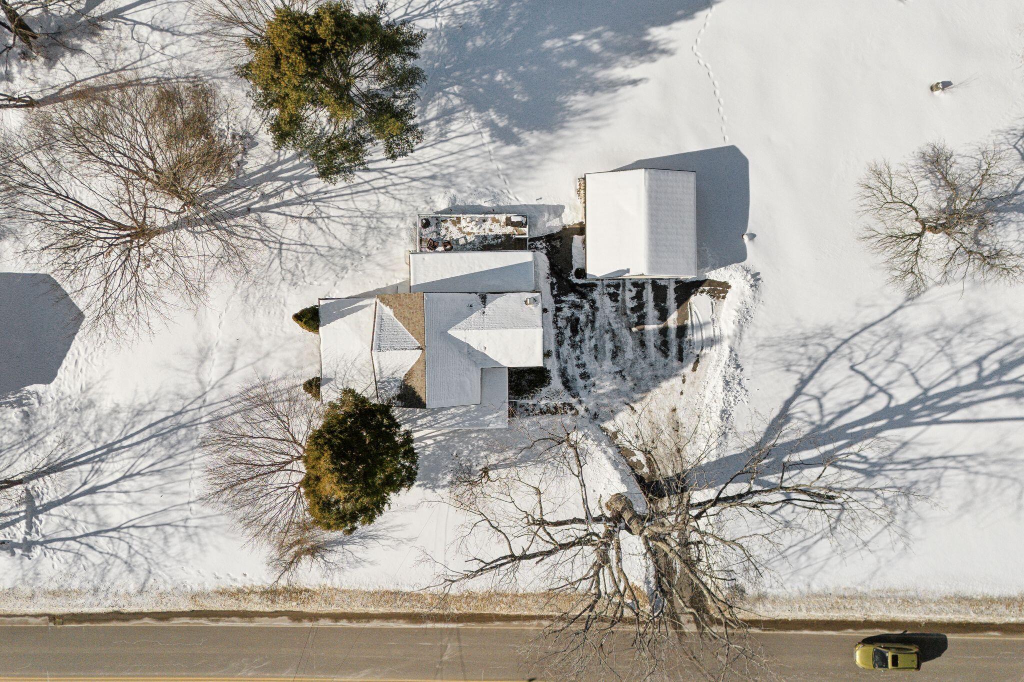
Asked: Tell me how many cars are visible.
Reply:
1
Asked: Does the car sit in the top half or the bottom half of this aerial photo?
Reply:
bottom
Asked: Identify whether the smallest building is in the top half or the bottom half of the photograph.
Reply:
top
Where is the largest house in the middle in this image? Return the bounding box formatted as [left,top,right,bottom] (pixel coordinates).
[320,251,547,431]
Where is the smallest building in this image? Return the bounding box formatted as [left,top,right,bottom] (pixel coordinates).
[583,167,697,280]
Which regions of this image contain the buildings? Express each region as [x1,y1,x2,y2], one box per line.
[320,251,547,431]
[583,167,697,280]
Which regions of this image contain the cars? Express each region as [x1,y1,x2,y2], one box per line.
[852,639,919,674]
